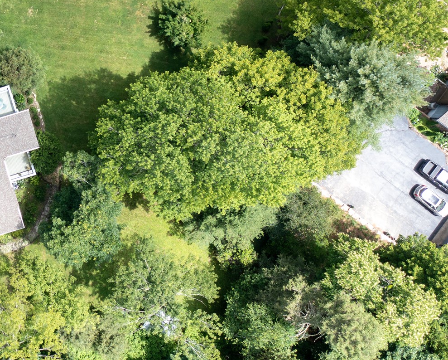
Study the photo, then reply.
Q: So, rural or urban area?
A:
rural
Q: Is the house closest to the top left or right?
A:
right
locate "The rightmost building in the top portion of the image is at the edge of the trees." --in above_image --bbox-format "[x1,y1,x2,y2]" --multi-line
[418,87,448,134]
